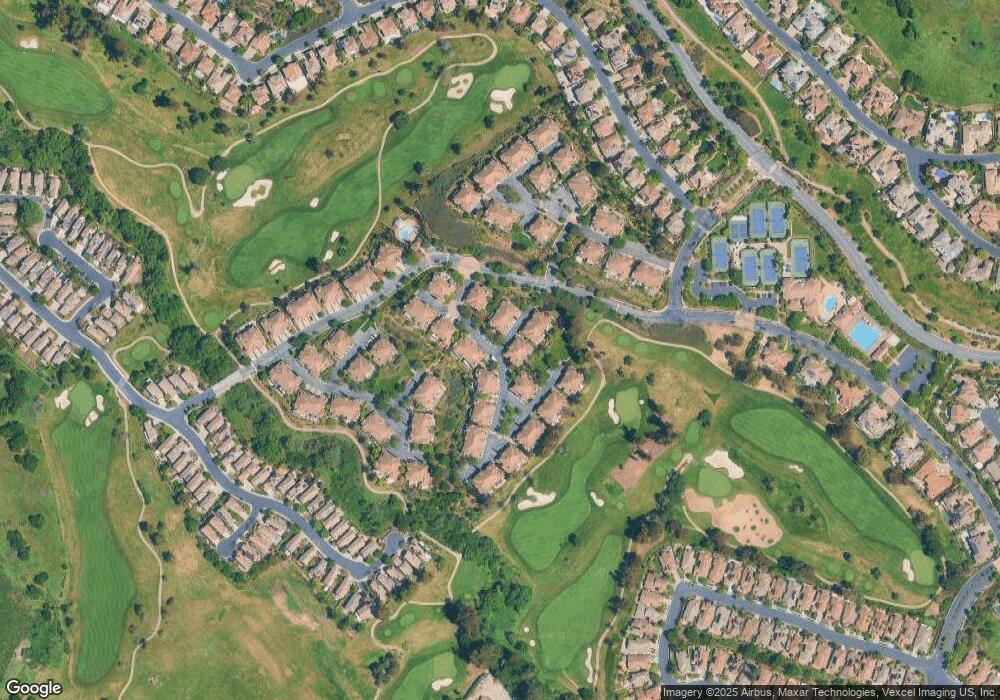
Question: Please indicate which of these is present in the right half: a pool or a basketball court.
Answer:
pool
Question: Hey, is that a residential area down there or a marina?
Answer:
residential area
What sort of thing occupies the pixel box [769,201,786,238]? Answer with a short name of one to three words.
tennis court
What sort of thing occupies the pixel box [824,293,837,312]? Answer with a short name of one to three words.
swimming pool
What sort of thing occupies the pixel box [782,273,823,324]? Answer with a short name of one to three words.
building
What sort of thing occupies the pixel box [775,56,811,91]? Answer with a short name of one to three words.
house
